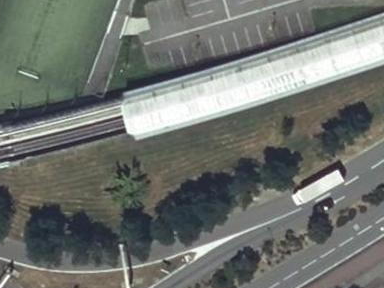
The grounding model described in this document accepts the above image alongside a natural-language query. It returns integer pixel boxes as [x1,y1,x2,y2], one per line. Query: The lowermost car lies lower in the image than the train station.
[314,196,334,212]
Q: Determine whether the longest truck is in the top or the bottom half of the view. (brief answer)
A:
bottom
